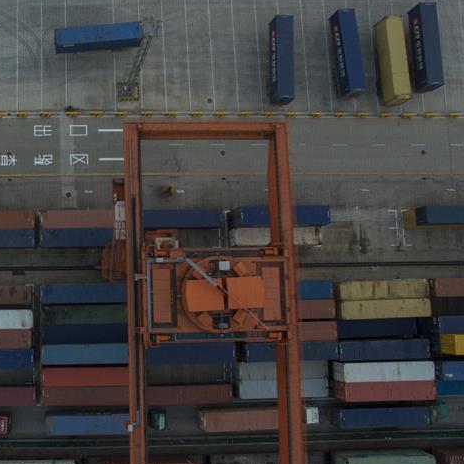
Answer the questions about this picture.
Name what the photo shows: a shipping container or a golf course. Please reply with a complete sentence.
I can see a shipping container in this picture.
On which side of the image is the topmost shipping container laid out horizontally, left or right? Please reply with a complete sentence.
The topmost shipping container laid out horizontally sits on the left side.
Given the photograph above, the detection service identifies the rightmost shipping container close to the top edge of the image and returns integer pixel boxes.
[407,4,445,91]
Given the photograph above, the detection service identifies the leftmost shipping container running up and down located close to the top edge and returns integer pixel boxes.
[269,18,295,104]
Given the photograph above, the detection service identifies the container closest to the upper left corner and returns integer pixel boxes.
[54,24,141,53]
